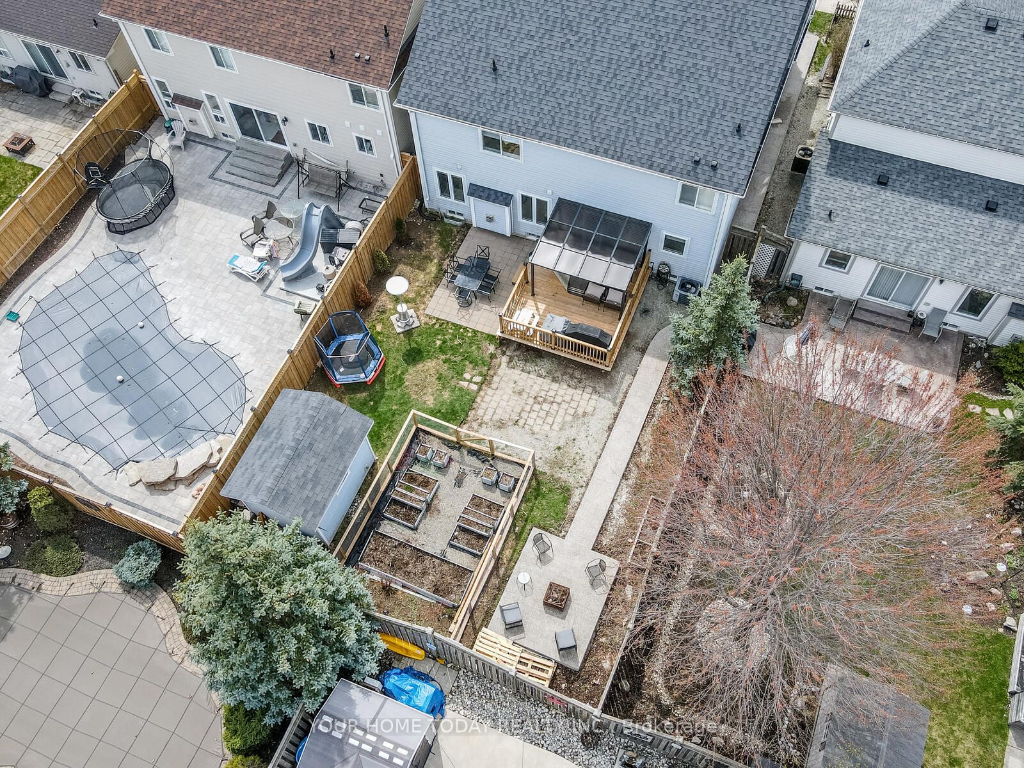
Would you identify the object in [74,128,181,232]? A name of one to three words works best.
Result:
trampoline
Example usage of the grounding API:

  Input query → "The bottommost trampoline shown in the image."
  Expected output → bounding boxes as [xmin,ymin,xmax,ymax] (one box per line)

[312,314,383,388]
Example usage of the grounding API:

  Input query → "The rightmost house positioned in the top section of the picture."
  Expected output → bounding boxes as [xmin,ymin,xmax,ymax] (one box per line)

[781,0,1024,355]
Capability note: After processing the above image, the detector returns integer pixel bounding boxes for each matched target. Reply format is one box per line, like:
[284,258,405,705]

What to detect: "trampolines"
[312,314,383,388]
[74,128,181,232]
